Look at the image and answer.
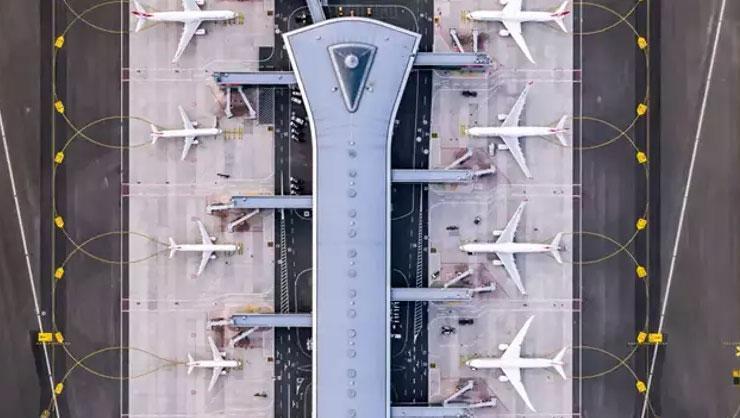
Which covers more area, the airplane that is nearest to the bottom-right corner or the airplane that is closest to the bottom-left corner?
the airplane that is nearest to the bottom-right corner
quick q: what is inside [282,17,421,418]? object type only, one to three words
building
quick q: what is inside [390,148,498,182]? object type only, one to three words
jet bridge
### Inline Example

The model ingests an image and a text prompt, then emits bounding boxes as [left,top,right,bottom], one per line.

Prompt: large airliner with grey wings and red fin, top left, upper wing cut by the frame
[134,0,238,61]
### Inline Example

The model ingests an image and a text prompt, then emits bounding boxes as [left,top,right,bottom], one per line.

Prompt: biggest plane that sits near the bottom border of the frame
[466,315,568,413]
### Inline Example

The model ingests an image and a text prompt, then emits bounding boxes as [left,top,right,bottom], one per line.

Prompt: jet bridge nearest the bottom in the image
[390,378,499,418]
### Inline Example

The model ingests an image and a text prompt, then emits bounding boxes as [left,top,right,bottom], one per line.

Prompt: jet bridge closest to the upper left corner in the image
[215,71,298,121]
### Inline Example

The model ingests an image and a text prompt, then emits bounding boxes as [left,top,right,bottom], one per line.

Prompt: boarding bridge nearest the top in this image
[410,26,492,68]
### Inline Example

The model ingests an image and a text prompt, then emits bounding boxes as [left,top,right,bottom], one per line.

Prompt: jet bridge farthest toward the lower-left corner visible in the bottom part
[205,313,313,351]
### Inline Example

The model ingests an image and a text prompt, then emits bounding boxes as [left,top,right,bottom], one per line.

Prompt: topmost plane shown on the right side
[467,0,569,64]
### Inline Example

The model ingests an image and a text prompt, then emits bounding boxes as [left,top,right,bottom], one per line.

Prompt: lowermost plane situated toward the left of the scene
[186,337,241,391]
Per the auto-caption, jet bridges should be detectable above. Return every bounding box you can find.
[215,71,298,121]
[205,313,313,351]
[390,378,499,418]
[205,196,313,233]
[390,148,498,182]
[410,26,492,68]
[390,265,499,302]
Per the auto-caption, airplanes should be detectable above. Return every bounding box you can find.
[134,0,238,61]
[466,315,568,413]
[465,83,569,178]
[186,337,241,391]
[467,0,569,64]
[151,104,222,159]
[169,219,240,276]
[460,200,564,294]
